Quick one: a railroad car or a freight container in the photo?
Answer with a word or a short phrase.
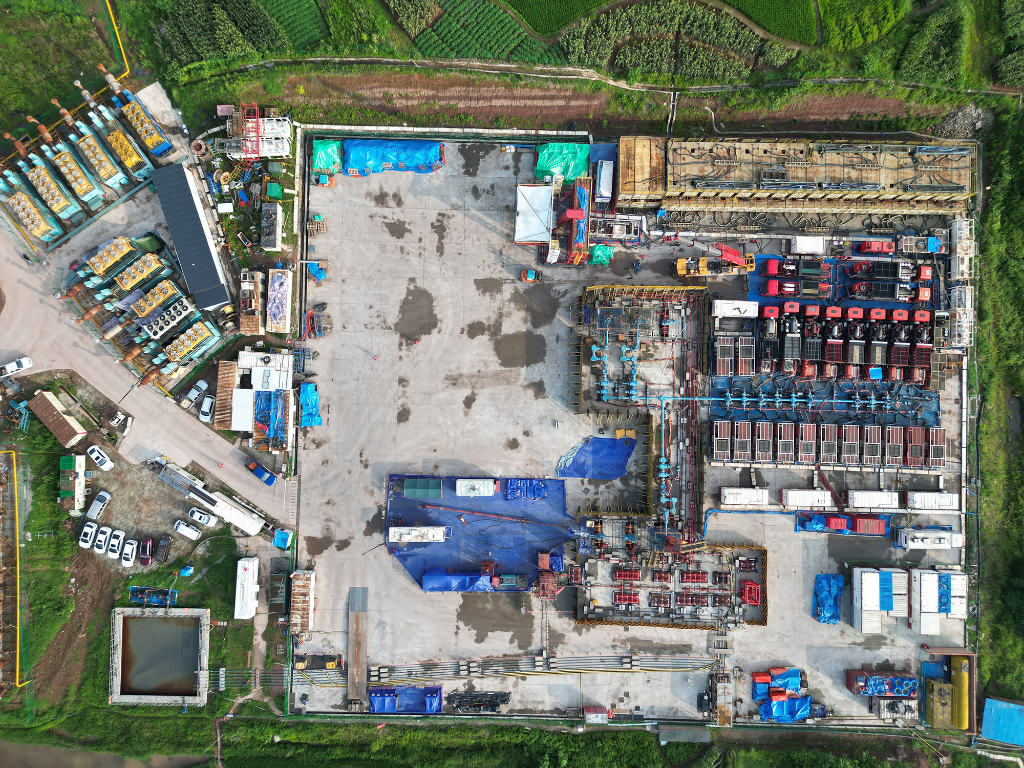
freight container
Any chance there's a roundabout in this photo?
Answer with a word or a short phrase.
No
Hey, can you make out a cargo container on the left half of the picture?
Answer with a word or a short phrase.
Yes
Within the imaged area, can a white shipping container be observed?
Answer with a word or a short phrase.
Yes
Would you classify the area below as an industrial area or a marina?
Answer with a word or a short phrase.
industrial area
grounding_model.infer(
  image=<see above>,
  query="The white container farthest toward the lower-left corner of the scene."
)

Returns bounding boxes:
[289,565,316,633]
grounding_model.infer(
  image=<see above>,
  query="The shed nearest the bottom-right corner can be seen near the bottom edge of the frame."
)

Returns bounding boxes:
[978,694,1024,745]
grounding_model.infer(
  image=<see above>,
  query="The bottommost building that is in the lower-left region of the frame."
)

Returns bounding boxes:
[234,553,263,617]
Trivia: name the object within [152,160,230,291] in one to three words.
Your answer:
shed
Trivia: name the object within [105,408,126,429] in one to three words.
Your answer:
vehicle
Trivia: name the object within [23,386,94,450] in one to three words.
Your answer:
house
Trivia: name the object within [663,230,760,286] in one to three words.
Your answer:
truck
